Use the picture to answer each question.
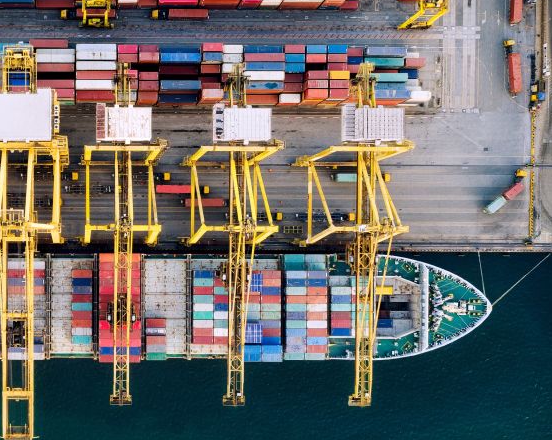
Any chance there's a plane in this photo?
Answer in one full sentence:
No, the scene contains no plane.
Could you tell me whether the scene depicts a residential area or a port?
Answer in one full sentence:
The picture captures a port.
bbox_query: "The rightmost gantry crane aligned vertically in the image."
[294,64,417,405]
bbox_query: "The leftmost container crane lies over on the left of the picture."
[0,45,71,440]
